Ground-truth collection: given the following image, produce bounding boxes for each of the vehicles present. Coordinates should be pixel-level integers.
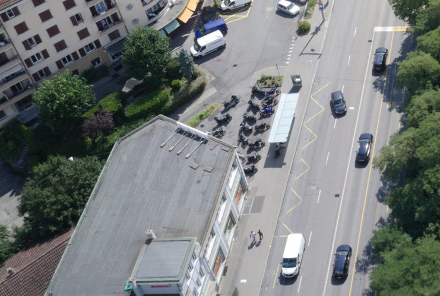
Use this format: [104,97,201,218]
[219,0,252,11]
[239,119,254,131]
[372,46,389,73]
[186,26,229,55]
[247,97,262,110]
[254,122,273,131]
[355,132,375,166]
[251,81,264,93]
[331,241,353,284]
[330,86,348,118]
[243,108,257,121]
[238,130,252,142]
[214,111,233,122]
[247,138,266,147]
[223,96,239,108]
[244,150,264,161]
[276,227,305,279]
[261,97,278,105]
[273,0,303,17]
[212,126,226,134]
[258,105,276,115]
[190,11,232,38]
[246,162,262,174]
